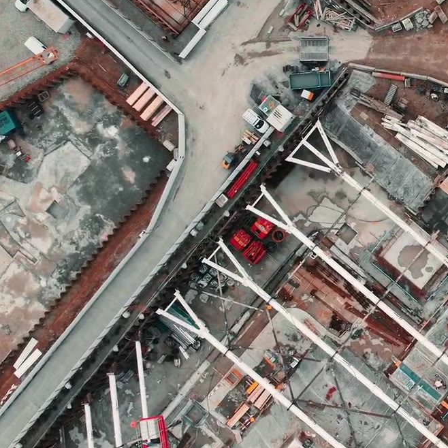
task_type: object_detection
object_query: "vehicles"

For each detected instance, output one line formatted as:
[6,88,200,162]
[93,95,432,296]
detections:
[24,34,59,56]
[239,104,275,138]
[218,142,252,169]
[16,0,31,12]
